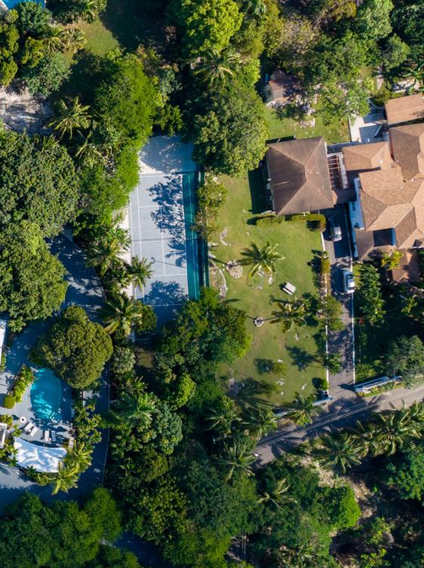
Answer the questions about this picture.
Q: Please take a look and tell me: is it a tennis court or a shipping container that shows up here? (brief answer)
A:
tennis court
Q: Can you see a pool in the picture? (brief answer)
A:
Yes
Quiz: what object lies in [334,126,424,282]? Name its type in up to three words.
house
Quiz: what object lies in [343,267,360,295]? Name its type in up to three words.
car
